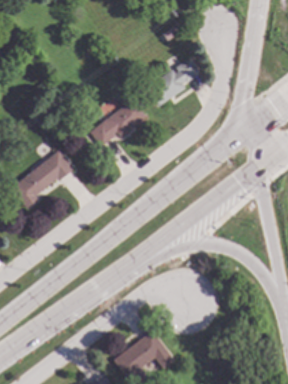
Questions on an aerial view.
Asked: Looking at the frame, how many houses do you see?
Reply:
4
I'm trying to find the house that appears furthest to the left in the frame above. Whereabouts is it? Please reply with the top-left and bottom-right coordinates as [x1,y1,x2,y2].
[18,150,73,208]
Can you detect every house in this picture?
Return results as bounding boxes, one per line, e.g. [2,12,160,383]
[152,58,200,108]
[115,330,174,378]
[90,98,146,146]
[18,150,73,208]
